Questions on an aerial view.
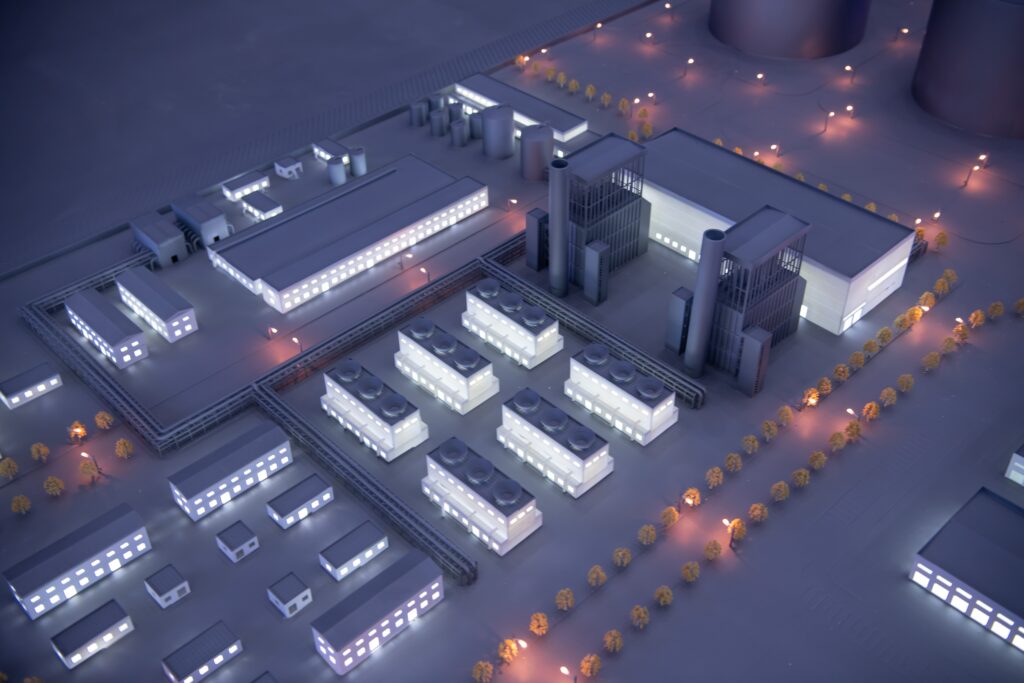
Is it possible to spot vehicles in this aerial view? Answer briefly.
No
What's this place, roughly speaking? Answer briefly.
industrial area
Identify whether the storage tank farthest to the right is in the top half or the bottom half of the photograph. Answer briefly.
top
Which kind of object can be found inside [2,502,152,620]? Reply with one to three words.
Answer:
building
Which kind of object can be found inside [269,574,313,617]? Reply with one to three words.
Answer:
shed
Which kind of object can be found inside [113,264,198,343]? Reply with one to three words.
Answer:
building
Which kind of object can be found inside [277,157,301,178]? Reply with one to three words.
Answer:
shed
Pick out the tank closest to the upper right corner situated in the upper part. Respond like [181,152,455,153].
[912,0,1024,141]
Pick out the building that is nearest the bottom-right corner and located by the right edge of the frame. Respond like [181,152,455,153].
[909,484,1024,650]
